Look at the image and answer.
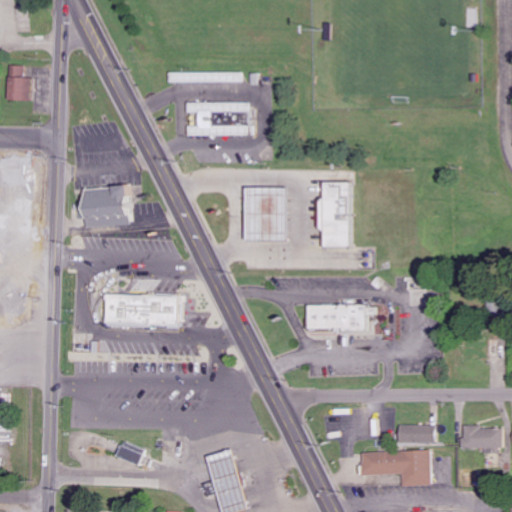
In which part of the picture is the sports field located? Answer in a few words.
top right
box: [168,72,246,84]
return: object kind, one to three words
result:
shed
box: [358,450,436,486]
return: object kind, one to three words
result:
building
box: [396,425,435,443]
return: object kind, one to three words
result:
house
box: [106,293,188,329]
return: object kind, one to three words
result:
building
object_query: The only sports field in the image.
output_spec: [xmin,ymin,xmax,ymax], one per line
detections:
[336,0,472,97]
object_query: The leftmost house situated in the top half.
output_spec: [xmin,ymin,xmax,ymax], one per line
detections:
[6,65,36,102]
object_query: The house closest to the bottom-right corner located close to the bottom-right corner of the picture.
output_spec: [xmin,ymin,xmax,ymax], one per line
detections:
[460,425,502,450]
